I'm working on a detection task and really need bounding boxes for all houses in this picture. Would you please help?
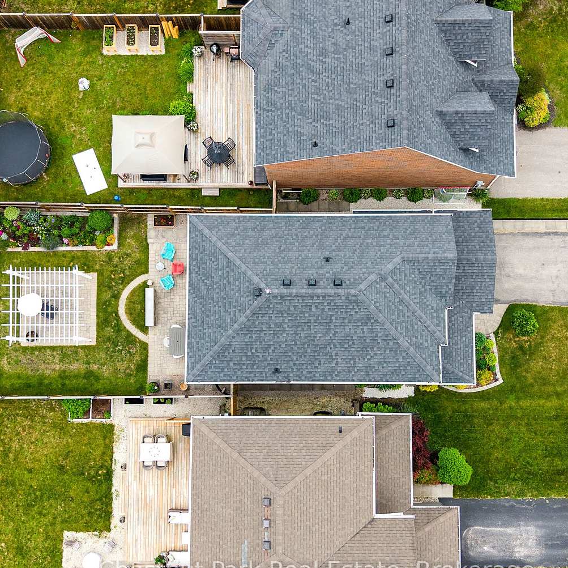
[187,411,463,568]
[239,0,518,189]
[186,206,503,385]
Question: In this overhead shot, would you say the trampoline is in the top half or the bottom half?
top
